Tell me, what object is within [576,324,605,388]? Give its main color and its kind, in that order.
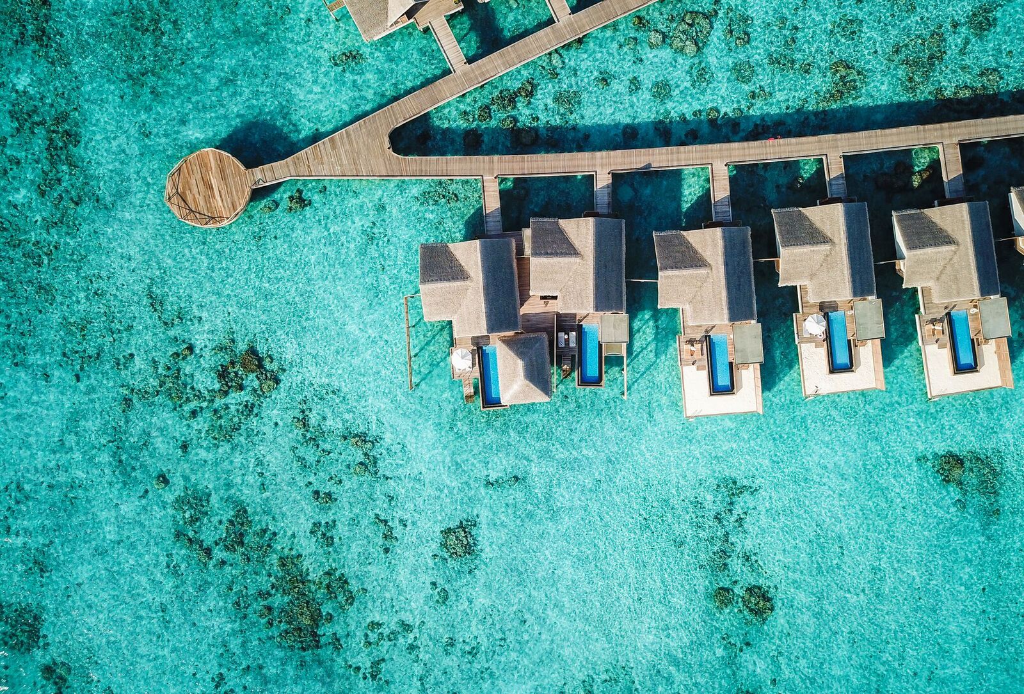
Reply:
blue swimming pool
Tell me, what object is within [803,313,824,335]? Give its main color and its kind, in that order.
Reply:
white umbrella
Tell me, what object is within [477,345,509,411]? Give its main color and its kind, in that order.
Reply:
blue swimming pool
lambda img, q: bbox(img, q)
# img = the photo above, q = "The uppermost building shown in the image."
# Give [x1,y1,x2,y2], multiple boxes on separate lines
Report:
[344,0,426,45]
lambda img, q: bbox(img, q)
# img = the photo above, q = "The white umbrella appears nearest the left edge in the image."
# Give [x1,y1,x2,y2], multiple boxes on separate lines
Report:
[451,348,472,370]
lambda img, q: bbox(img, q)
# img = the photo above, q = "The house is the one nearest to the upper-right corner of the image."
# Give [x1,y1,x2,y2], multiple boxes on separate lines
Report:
[992,187,1024,262]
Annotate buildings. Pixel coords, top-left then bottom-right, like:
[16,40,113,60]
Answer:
[344,0,426,45]
[498,333,551,405]
[992,187,1024,262]
[880,194,997,303]
[420,231,521,337]
[529,211,625,313]
[766,195,875,303]
[653,220,755,326]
